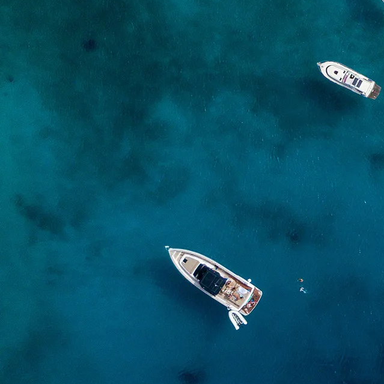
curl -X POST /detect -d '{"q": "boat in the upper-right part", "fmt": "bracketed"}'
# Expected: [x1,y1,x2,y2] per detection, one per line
[316,61,381,99]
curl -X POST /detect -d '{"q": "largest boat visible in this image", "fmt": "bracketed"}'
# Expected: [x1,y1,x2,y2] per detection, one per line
[166,247,262,315]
